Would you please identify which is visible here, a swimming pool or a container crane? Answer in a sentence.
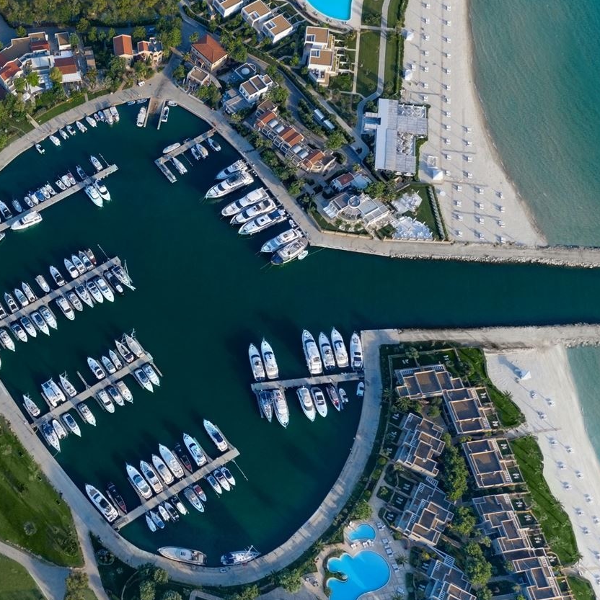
Visible in the photo is a swimming pool.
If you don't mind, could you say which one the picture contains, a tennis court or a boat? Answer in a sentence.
Of the two, only a boat appears.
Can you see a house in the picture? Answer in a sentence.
Yes, looking at the shot, I can spot a house.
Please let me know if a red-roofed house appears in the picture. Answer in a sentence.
Yes, this view includes a red-roofed house.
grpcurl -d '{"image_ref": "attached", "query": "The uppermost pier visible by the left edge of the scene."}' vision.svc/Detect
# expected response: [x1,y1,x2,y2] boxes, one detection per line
[0,153,117,233]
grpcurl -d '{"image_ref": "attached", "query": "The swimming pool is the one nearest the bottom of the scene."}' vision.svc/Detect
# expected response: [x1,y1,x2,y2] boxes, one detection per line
[325,549,392,600]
